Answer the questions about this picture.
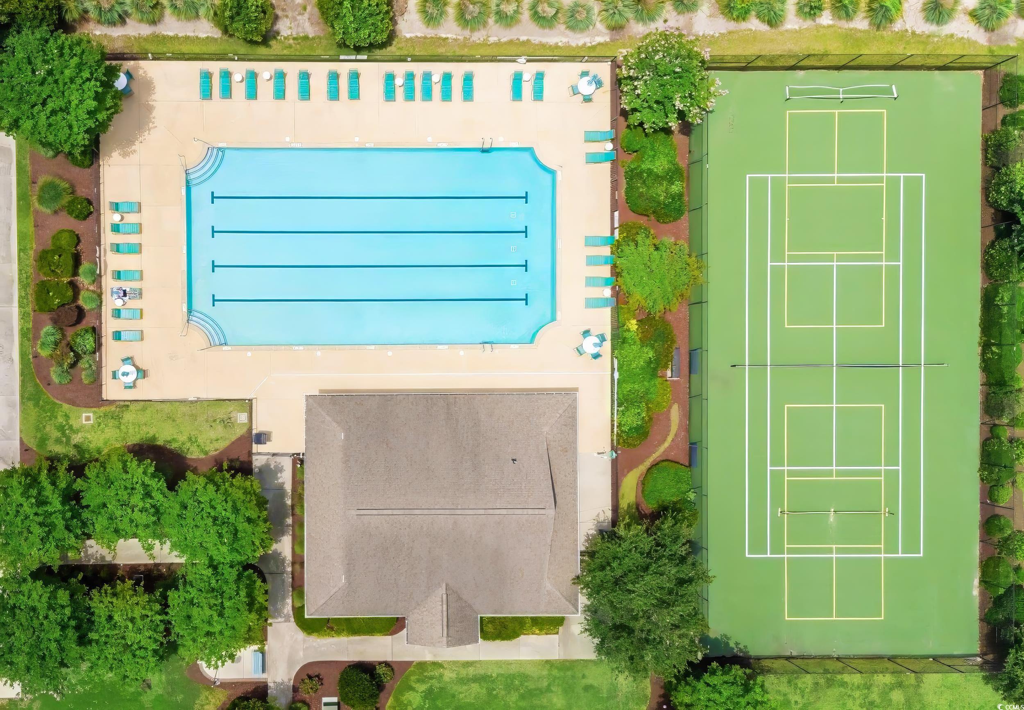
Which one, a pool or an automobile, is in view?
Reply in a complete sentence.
This aerial view contains a pool.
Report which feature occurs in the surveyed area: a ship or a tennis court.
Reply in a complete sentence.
It is a tennis court that can be seen here.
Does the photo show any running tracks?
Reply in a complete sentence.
No, there isn't any running track down there.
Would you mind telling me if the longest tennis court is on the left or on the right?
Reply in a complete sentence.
The longest tennis court is on the right side of the image.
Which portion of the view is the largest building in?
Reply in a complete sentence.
You can find the largest building in the bottom area of the picture.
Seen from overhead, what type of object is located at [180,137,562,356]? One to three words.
swimming pool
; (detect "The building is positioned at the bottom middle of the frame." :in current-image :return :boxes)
[304,392,580,648]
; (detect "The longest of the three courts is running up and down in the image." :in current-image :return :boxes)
[689,70,982,658]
